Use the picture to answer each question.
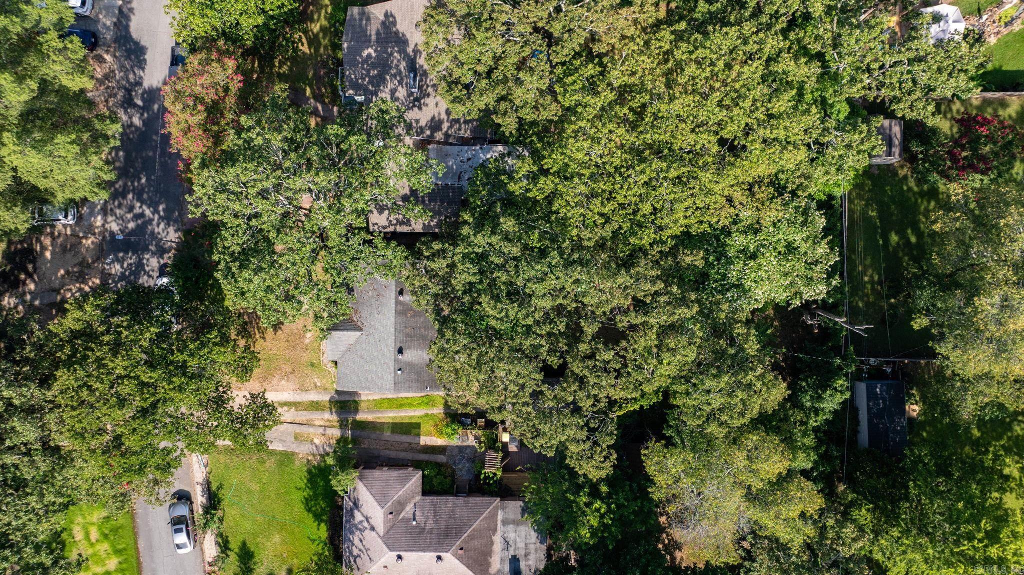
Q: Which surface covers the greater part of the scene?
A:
trees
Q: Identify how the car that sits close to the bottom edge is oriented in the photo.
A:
from top to bottom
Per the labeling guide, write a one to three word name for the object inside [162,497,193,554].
car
